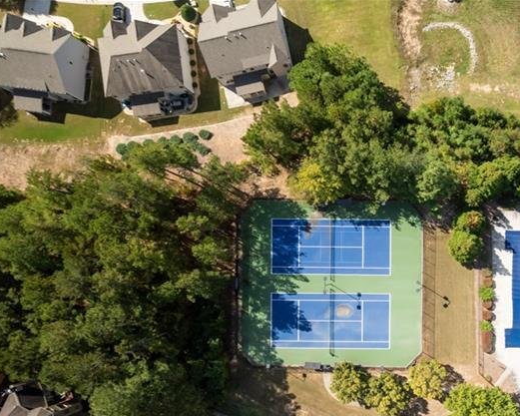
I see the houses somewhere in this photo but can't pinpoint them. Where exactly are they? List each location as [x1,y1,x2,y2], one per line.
[196,0,296,100]
[0,0,88,117]
[98,16,194,120]
[0,374,89,416]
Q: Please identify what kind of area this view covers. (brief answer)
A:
residential area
